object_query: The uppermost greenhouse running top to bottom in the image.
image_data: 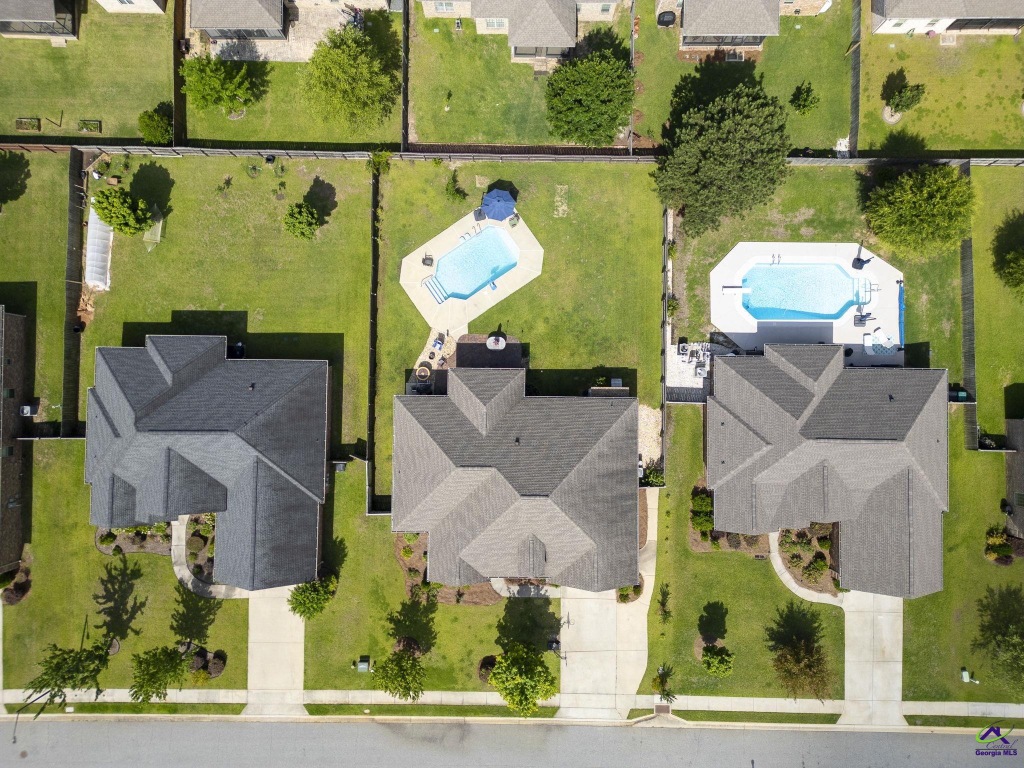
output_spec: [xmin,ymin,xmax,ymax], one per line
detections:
[83,196,113,295]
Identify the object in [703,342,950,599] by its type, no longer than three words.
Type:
house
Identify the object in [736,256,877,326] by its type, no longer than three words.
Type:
swimming pool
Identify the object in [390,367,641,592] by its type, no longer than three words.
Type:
house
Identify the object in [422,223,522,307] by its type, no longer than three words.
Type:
swimming pool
